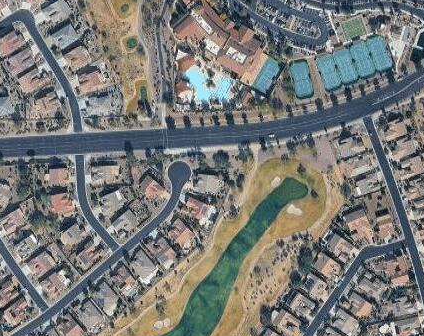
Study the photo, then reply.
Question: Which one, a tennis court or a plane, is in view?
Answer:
tennis court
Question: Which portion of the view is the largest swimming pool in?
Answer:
top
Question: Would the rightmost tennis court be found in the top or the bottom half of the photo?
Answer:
top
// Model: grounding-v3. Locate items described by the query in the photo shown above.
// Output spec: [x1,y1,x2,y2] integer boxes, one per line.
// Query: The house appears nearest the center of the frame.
[198,167,221,196]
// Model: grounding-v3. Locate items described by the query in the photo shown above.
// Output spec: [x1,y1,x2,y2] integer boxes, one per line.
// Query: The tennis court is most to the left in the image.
[254,59,281,93]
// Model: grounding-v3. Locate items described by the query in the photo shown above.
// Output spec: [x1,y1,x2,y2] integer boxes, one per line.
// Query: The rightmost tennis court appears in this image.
[368,34,393,70]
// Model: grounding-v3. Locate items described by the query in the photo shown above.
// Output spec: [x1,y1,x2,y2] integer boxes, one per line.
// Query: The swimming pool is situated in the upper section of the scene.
[183,65,235,102]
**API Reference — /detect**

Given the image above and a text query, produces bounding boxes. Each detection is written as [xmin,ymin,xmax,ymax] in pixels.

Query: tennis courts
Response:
[334,49,359,85]
[351,41,375,77]
[290,59,314,98]
[368,34,393,70]
[254,59,281,93]
[318,54,342,90]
